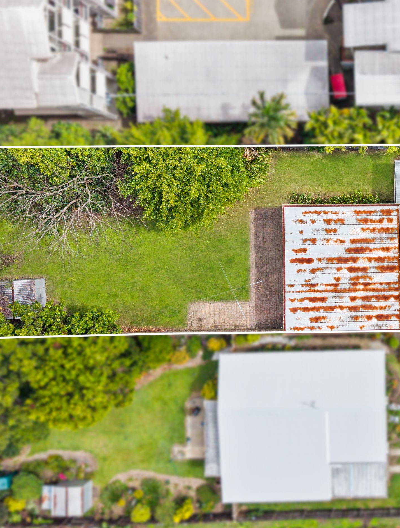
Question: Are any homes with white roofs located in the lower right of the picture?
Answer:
Yes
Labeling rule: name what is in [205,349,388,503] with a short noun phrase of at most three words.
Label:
house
